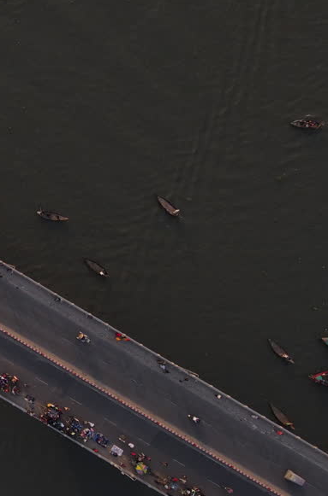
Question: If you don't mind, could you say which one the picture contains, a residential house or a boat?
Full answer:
I can see a boat in this picture.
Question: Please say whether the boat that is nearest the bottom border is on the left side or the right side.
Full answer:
You can find the boat that is nearest the bottom border on the right side of the picture.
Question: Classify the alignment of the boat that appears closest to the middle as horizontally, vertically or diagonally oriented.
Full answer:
In this picture, the boat that appears closest to the middle is oriented diagonally.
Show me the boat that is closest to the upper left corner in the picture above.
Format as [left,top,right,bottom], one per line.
[36,202,71,221]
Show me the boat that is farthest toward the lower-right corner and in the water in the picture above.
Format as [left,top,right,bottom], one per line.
[270,403,298,431]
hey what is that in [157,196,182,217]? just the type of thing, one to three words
boat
